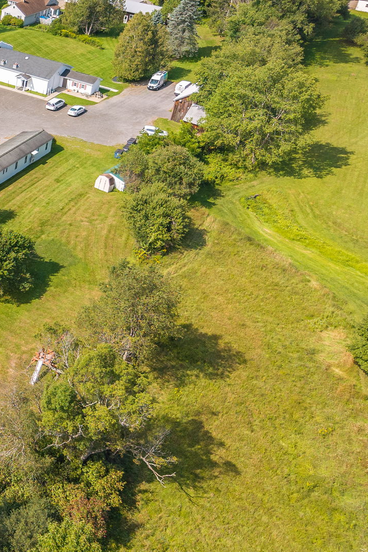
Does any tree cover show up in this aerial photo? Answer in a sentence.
Yes, there's tree cover in this view.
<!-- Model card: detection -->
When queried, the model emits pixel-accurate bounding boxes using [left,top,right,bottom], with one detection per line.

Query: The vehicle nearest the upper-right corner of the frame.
[178,74,194,90]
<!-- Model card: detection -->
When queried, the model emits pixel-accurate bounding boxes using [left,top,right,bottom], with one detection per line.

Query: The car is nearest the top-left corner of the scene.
[47,95,65,108]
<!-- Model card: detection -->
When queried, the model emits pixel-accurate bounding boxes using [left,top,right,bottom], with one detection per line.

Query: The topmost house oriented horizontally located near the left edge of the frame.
[1,0,60,26]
